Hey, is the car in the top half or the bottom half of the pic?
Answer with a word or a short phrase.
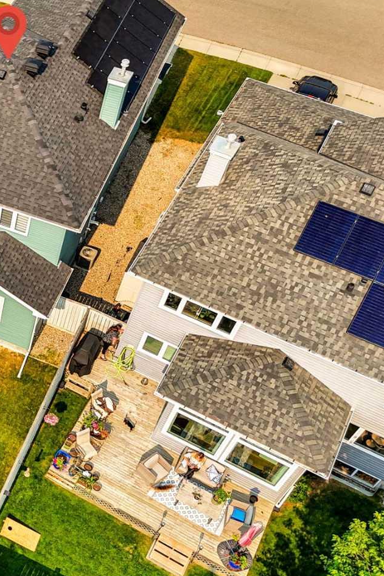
top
